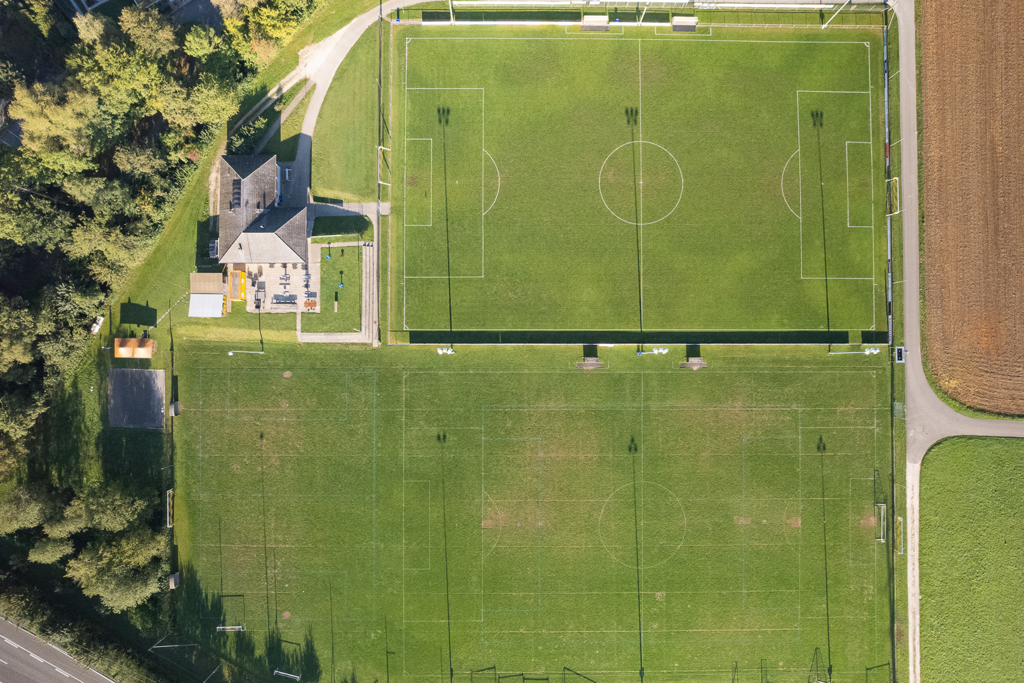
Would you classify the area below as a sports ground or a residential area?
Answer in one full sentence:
The picture captures a sports ground.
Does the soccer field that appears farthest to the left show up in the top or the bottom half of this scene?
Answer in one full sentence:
The soccer field that appears farthest to the left sits in the bottom half of the picture.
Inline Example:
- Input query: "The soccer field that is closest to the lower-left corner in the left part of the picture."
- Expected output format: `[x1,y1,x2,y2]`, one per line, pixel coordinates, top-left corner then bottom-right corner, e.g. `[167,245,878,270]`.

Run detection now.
[174,345,385,683]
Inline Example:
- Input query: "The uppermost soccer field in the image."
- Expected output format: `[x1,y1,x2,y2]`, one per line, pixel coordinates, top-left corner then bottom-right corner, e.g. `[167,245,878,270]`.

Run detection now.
[391,24,889,344]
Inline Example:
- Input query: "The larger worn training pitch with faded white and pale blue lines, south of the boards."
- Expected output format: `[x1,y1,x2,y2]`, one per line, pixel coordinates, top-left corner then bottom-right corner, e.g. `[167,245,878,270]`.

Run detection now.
[385,345,892,683]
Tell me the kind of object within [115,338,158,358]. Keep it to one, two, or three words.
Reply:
gazebo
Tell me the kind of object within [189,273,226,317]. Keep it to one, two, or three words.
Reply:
shed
